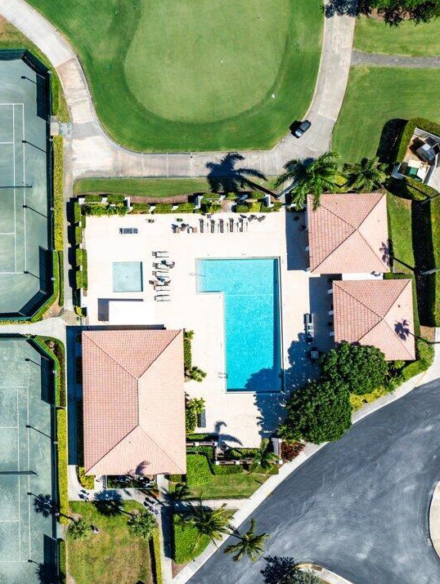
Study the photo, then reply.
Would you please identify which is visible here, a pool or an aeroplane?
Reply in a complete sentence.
The one in the frame is a pool.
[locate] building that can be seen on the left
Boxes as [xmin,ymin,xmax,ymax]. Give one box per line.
[82,329,187,476]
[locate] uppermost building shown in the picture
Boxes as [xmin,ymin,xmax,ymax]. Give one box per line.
[298,193,390,274]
